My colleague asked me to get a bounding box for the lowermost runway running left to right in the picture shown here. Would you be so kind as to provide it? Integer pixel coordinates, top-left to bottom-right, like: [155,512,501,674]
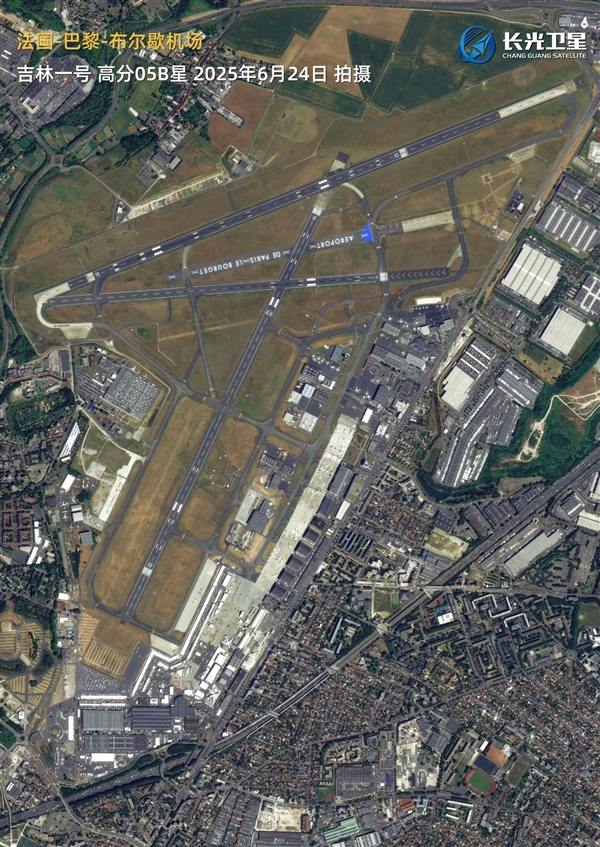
[46,266,449,307]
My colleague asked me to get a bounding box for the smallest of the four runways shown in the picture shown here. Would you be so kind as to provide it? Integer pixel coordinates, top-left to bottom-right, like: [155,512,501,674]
[166,223,375,283]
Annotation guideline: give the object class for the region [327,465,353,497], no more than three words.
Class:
hangar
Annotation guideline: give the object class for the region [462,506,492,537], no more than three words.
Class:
building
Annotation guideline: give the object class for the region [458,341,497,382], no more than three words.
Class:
building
